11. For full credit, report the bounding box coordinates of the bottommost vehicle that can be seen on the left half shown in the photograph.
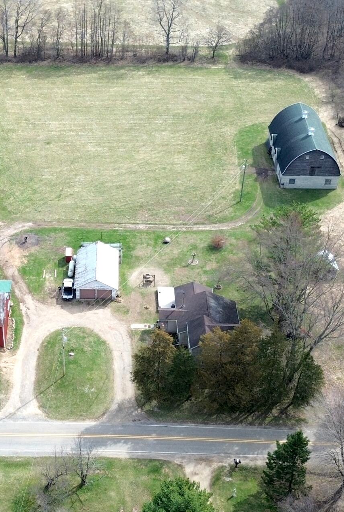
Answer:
[61,279,74,298]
